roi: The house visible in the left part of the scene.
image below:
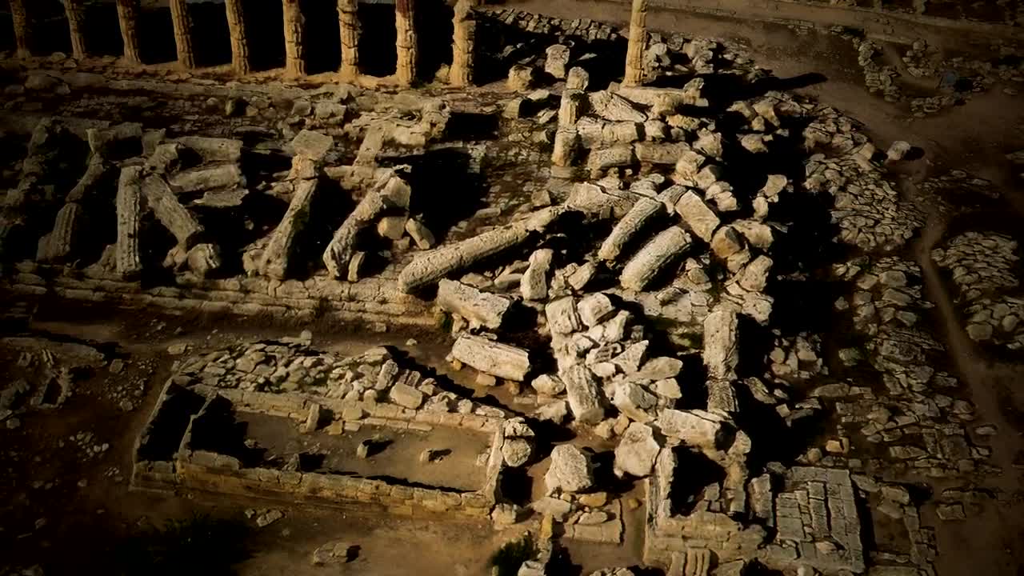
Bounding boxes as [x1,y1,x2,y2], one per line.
[133,376,515,523]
